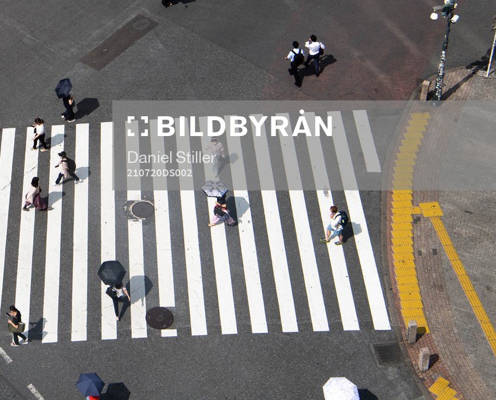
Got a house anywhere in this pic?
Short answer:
No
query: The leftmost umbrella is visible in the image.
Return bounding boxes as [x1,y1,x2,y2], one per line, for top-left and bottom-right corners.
[56,78,78,102]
